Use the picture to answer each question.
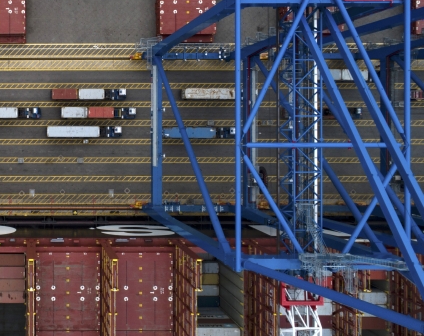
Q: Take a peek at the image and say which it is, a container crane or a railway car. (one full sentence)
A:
I can see a container crane in this picture.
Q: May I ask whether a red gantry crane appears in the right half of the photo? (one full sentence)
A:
No, there's no red gantry crane to be seen in the right half of the photo.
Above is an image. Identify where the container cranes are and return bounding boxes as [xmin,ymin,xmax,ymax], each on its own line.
[262,8,424,252]
[128,0,424,336]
